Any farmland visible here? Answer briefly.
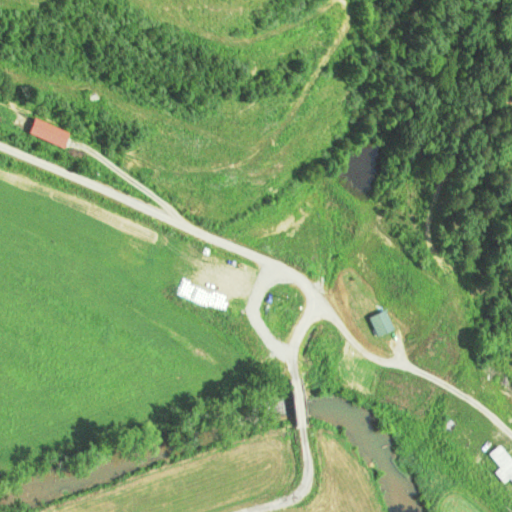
Yes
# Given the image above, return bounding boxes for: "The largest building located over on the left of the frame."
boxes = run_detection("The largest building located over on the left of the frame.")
[30,118,72,148]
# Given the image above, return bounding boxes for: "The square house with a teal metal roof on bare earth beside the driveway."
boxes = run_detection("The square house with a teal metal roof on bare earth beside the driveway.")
[370,310,394,336]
